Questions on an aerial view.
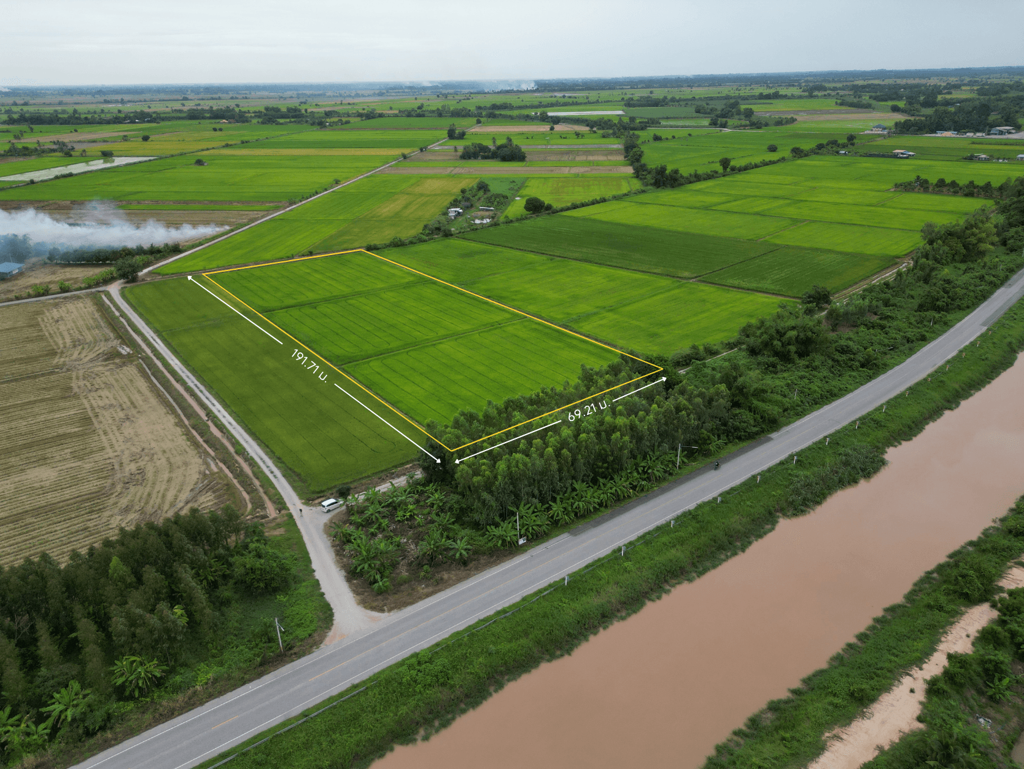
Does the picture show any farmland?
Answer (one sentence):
Yes, there's farmland in this view.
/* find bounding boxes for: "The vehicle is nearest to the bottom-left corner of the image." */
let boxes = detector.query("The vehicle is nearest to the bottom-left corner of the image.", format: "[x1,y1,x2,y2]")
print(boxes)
[321,496,347,511]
